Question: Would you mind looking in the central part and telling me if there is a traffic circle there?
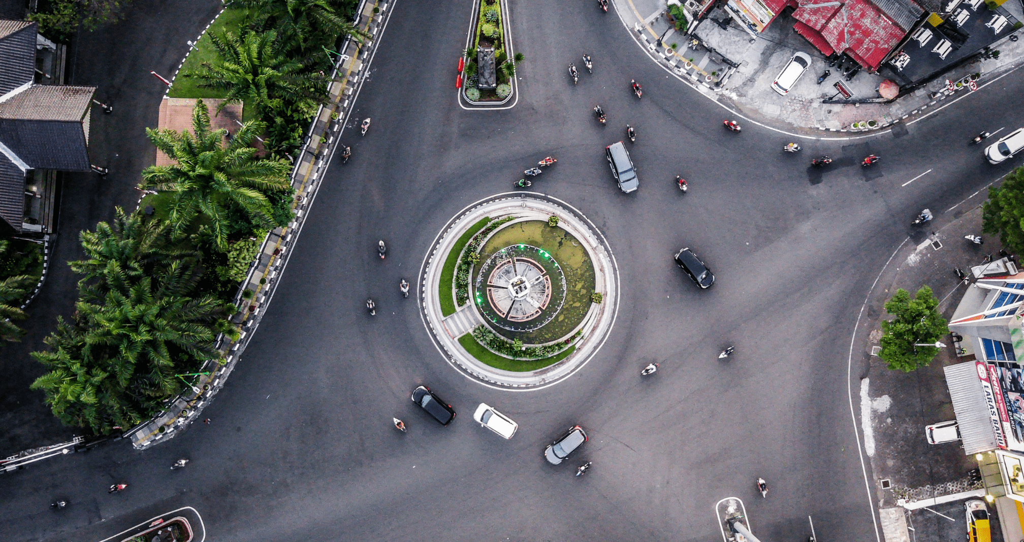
Yes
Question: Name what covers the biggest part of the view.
paved ground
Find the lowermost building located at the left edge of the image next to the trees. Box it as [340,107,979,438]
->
[0,18,114,235]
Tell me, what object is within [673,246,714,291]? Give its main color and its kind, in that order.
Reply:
black car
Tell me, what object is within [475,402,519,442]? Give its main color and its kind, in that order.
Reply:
white car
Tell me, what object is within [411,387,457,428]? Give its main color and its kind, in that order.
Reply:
black car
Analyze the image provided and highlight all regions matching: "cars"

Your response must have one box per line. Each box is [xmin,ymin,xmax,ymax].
[673,246,714,291]
[605,142,638,194]
[771,51,810,97]
[411,387,457,428]
[963,499,998,542]
[475,402,519,442]
[981,123,1024,164]
[923,420,963,445]
[545,425,588,465]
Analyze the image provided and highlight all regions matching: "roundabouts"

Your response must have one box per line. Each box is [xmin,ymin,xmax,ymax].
[423,197,614,387]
